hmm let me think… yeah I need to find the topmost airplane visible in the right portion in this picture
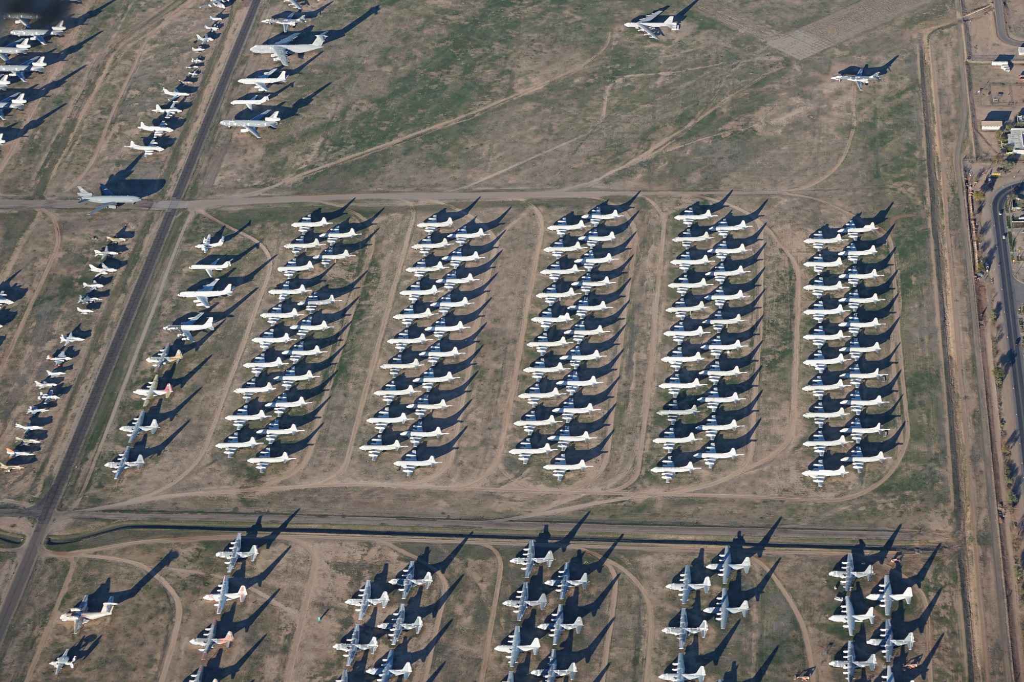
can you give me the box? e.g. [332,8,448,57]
[624,11,676,38]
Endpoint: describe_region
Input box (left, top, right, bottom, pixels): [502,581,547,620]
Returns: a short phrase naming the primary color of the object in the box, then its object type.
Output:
gray airplane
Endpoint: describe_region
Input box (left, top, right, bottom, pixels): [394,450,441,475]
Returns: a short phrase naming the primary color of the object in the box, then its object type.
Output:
white airplane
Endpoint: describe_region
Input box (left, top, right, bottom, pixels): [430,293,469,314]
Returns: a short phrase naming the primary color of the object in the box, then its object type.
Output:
white airplane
